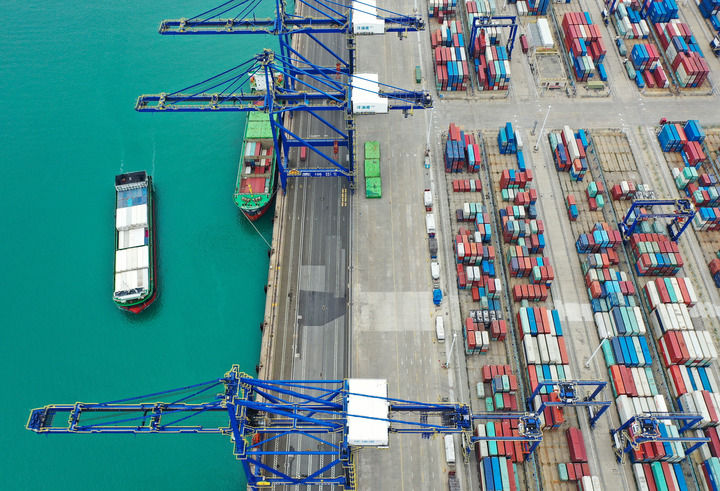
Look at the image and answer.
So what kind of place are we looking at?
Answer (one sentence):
The picture captures a port.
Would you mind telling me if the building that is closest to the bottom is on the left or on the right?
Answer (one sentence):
The building that is closest to the bottom appears in the right half of the scene.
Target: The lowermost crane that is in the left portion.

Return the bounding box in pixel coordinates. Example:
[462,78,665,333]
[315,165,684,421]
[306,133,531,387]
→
[22,365,473,491]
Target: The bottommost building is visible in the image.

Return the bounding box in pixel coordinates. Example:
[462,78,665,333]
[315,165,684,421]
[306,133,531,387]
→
[529,59,567,94]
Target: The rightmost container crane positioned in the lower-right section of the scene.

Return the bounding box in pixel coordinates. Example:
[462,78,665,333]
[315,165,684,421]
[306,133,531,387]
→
[612,410,719,468]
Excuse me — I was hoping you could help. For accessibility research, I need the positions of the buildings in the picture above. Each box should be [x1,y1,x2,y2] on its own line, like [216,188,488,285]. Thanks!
[529,59,567,94]
[532,23,553,55]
